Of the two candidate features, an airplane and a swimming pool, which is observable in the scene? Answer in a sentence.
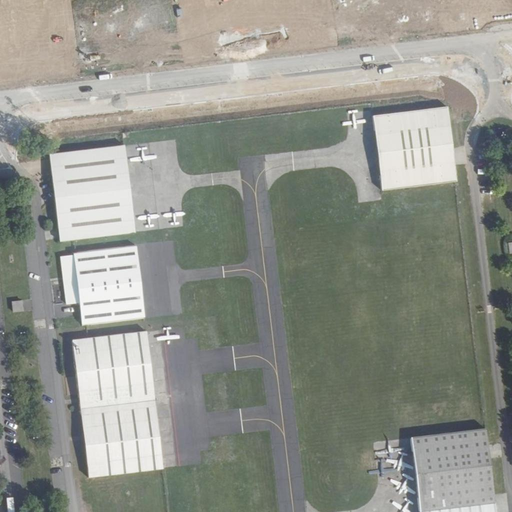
Visible in the photo is an airplane.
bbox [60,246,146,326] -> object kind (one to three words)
hangar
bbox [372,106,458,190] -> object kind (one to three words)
hangar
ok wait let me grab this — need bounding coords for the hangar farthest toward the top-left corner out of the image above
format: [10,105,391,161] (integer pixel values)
[50,145,136,242]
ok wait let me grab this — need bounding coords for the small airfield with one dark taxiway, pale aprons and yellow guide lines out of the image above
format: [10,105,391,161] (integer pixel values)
[126,108,420,512]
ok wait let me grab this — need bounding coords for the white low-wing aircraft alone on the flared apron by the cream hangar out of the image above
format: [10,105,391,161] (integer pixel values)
[342,110,366,129]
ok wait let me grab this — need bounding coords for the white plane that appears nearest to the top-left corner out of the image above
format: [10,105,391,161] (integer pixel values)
[130,146,157,164]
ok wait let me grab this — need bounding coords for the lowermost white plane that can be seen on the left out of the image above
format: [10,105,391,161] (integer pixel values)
[156,326,180,344]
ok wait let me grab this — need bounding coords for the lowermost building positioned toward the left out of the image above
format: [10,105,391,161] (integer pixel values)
[72,331,164,478]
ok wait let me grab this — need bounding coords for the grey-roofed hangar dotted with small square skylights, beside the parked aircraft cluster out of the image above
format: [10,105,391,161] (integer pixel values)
[411,428,496,512]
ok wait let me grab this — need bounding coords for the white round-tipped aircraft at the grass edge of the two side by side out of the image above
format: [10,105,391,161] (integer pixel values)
[162,208,186,224]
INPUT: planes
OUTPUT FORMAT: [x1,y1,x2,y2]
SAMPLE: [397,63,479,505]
[162,208,186,224]
[342,110,366,129]
[376,433,404,458]
[386,452,414,472]
[137,210,160,226]
[390,498,414,512]
[130,146,157,164]
[390,474,416,494]
[156,326,180,344]
[369,457,396,476]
